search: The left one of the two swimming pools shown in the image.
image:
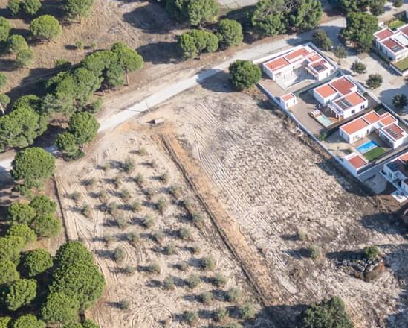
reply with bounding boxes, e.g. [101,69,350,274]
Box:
[313,112,335,127]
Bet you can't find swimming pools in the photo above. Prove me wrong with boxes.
[355,138,380,155]
[313,112,335,127]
